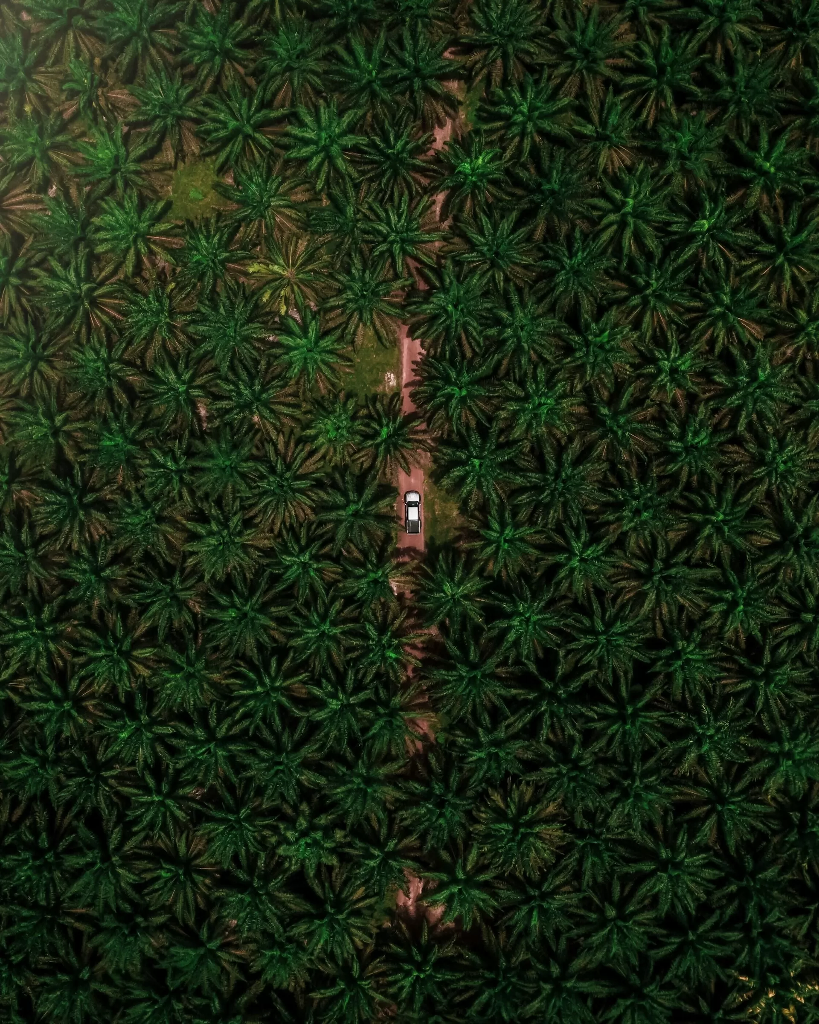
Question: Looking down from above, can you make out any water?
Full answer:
No, there's no water in this view.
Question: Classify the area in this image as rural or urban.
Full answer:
From above, the setting appears rural.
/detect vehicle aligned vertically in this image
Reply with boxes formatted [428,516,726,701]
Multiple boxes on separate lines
[404,491,422,534]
